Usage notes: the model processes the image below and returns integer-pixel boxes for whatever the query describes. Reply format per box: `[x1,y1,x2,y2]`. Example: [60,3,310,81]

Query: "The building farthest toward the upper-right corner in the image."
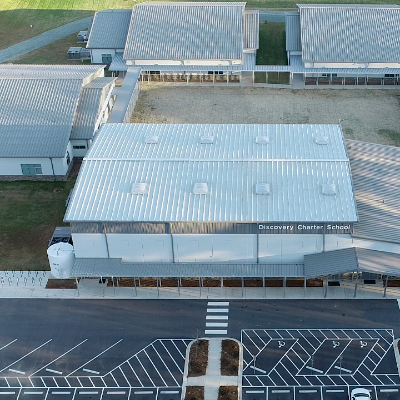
[286,4,400,82]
